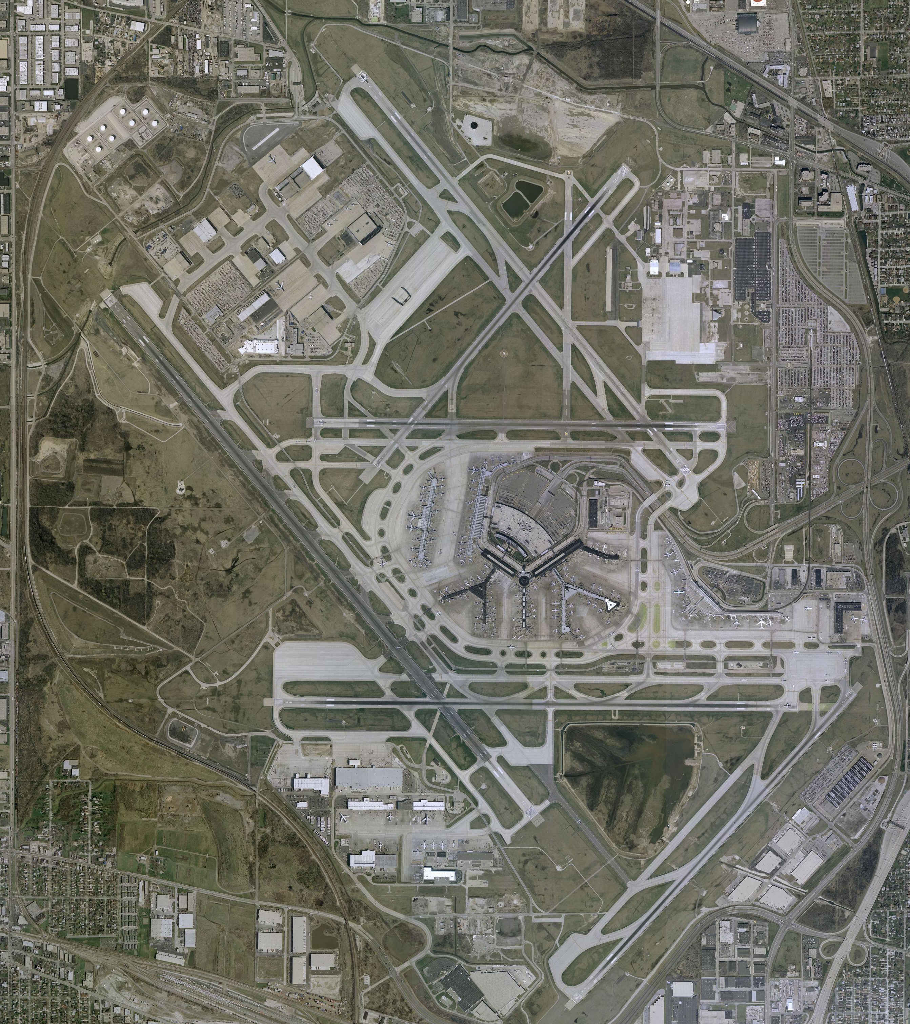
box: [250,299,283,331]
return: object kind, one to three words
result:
hangar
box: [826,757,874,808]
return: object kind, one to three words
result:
shed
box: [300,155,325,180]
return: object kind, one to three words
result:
hangar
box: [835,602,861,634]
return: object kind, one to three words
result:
building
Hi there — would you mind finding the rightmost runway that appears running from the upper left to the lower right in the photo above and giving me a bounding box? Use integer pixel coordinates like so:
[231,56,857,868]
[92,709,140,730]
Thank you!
[358,70,689,473]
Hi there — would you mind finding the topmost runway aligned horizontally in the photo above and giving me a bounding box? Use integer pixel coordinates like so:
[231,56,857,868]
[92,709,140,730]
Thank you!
[314,417,726,432]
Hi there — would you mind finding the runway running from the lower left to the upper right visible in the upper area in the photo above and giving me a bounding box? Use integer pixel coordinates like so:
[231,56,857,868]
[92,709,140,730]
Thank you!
[373,167,627,466]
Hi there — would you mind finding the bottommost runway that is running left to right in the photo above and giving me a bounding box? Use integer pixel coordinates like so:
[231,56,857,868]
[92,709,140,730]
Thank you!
[273,696,798,712]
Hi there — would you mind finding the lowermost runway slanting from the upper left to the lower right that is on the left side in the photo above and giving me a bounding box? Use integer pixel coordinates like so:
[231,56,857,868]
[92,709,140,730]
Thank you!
[104,294,536,816]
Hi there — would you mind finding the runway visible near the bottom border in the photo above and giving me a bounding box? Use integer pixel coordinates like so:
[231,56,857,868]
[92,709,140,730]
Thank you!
[573,690,855,1002]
